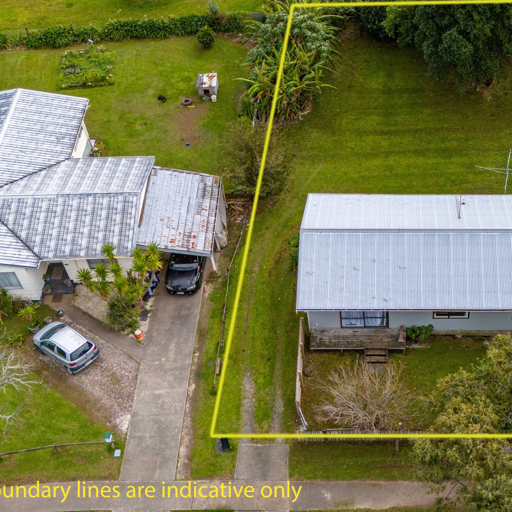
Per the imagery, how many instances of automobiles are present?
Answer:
2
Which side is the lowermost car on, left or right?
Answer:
left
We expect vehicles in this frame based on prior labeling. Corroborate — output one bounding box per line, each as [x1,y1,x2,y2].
[165,253,208,296]
[27,316,102,377]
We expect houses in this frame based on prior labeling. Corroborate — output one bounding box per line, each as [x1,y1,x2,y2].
[294,189,512,332]
[0,84,228,299]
